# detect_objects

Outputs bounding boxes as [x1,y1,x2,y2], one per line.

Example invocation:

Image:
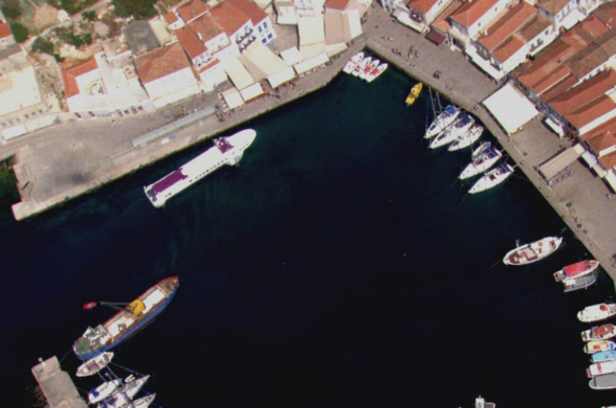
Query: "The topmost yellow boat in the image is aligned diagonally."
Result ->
[406,81,422,106]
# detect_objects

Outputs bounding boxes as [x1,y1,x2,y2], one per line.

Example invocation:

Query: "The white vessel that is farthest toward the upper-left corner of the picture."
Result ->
[144,133,255,210]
